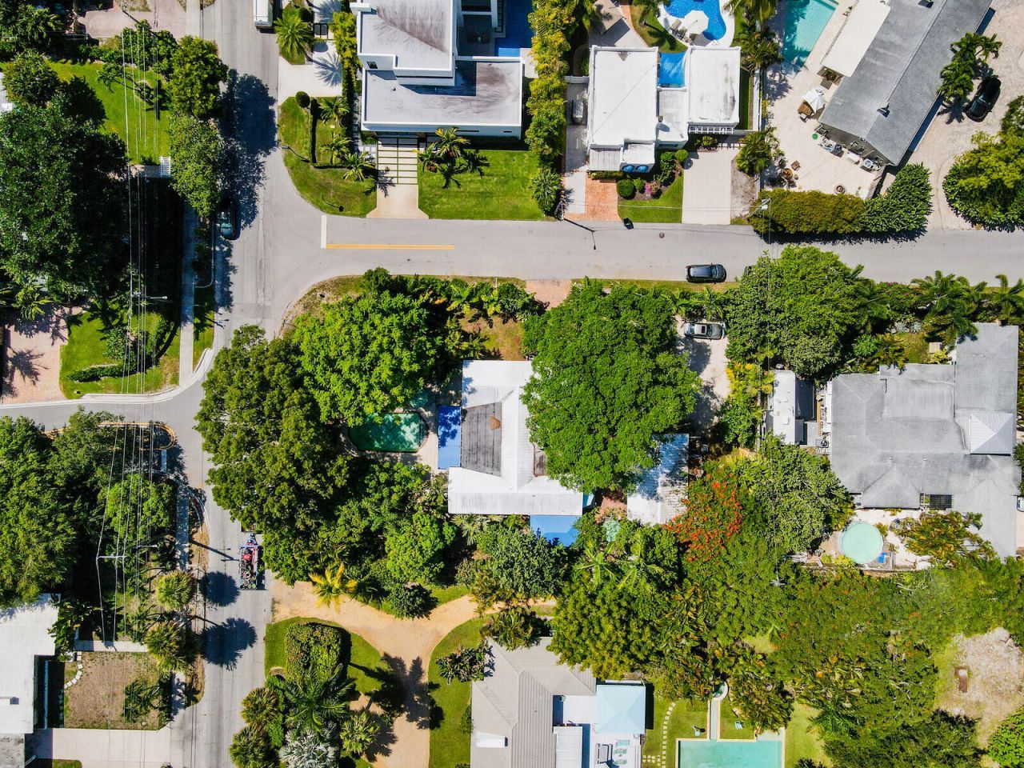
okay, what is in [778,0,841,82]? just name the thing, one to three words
swimming pool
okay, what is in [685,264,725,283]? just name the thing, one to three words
car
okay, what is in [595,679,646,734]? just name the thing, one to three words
gazebo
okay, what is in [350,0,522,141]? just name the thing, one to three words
house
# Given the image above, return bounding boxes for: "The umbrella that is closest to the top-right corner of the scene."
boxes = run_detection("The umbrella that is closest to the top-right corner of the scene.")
[799,92,824,115]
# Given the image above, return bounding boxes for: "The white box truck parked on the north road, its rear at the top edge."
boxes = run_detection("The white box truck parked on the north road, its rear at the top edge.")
[246,0,271,27]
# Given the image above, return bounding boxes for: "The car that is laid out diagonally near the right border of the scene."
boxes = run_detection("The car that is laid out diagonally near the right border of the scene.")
[966,76,1000,119]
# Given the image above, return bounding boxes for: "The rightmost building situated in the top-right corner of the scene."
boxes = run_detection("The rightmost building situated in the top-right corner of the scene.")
[814,0,992,168]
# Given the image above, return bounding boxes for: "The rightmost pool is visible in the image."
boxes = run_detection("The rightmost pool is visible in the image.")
[837,520,885,566]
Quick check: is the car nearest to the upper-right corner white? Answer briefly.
No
